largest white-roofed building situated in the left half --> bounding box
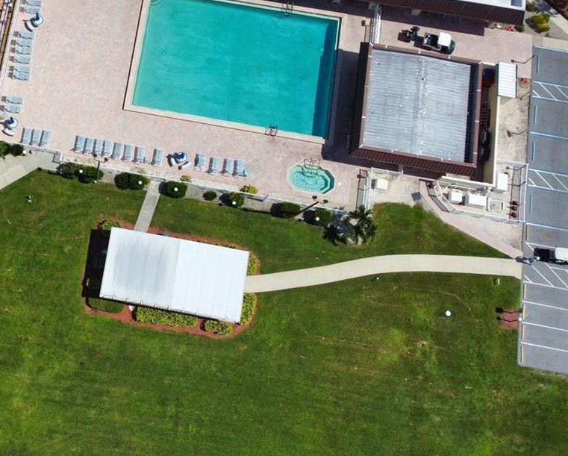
[99,227,248,324]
